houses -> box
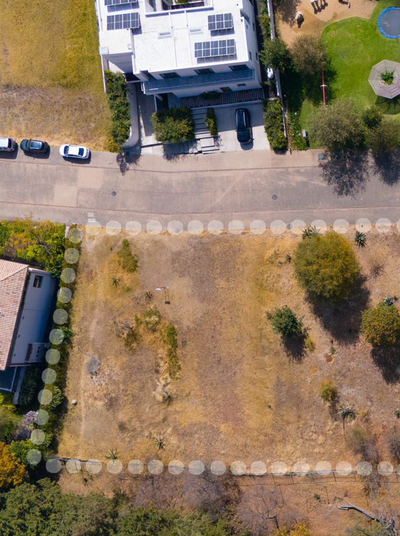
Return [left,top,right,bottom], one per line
[0,259,51,403]
[97,0,266,103]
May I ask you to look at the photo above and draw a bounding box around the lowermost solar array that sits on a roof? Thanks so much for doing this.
[194,39,235,58]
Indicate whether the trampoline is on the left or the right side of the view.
right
